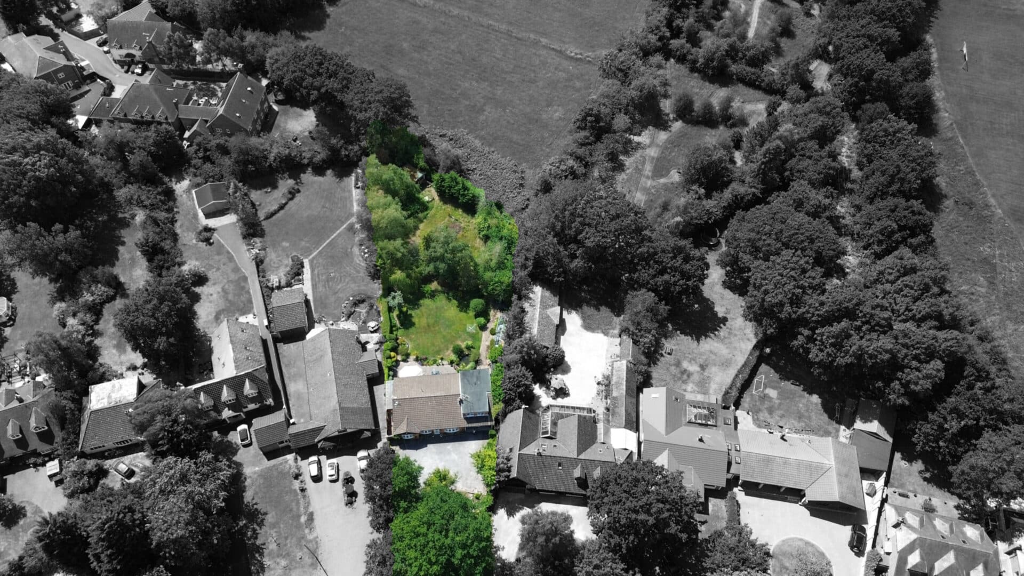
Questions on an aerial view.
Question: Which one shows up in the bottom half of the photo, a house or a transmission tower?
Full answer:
There is a house in the bottom half of the photo.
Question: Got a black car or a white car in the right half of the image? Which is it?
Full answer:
The feature located in the right half of the image is a black car.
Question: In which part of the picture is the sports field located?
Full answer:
Look in the top right portion of the view to spot the sports field.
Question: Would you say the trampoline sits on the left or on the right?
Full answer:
You can find the trampoline on the right side of the picture.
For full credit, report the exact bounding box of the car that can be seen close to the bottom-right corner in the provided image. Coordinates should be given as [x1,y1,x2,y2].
[847,521,868,557]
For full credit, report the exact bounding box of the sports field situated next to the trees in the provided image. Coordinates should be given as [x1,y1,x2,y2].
[930,0,1024,241]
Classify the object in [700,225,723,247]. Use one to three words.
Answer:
trampoline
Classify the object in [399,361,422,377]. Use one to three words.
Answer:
umbrella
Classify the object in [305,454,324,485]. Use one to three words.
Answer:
car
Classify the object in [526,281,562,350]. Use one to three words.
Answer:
barn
